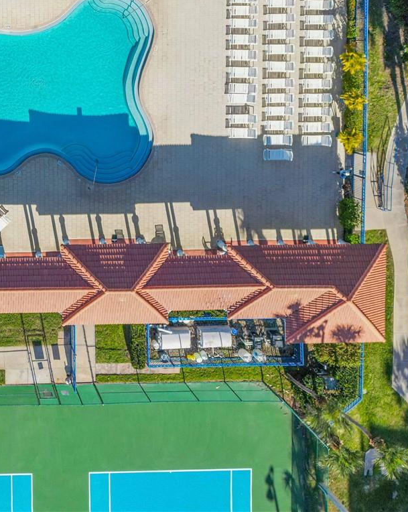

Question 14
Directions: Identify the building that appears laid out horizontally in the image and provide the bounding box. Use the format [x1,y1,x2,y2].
[0,237,388,344]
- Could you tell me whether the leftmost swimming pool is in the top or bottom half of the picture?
top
